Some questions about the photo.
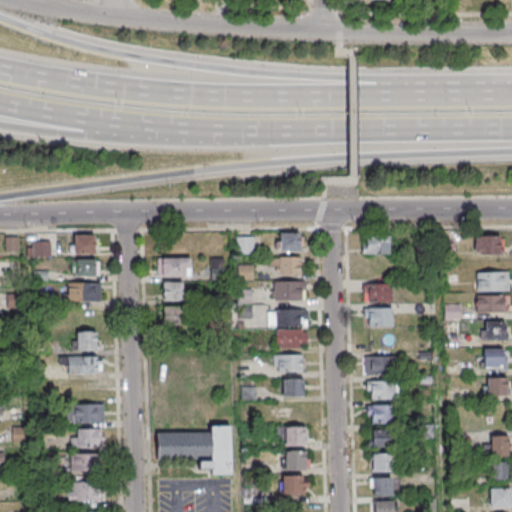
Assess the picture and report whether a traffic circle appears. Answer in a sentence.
No, there is no traffic circle in the image.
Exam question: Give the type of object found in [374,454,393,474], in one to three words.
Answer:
house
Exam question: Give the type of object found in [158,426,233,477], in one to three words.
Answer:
building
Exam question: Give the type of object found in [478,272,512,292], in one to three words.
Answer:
house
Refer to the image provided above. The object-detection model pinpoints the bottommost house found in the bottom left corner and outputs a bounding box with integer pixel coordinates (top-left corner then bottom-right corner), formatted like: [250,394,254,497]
[68,484,104,508]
